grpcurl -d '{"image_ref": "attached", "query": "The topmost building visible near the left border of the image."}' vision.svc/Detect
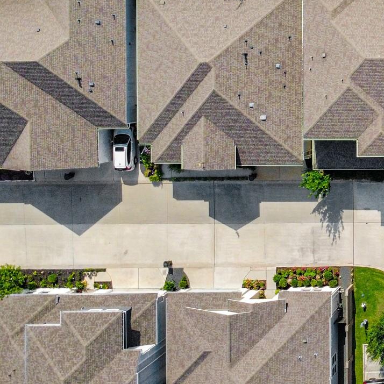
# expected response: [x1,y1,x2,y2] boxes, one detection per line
[0,0,137,170]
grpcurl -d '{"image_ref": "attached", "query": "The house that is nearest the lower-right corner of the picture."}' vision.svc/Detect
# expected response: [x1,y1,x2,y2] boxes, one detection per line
[166,285,333,384]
